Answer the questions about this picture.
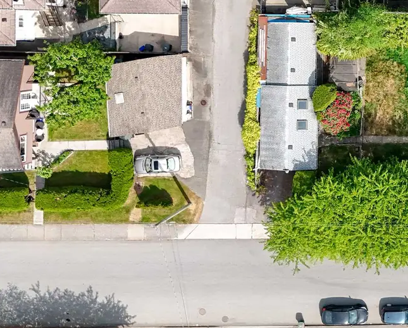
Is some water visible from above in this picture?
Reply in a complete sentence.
No, there's no water in this view.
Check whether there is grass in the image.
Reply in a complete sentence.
Yes, there's grass in this view.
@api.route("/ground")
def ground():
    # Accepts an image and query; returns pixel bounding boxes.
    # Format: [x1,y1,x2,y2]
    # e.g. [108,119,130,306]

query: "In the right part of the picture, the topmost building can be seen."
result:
[260,15,318,86]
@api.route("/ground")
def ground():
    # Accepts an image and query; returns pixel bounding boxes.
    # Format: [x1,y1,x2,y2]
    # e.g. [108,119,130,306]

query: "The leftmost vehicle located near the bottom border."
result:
[321,302,369,327]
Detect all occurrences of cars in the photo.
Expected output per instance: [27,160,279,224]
[135,153,183,177]
[321,302,369,327]
[380,302,408,323]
